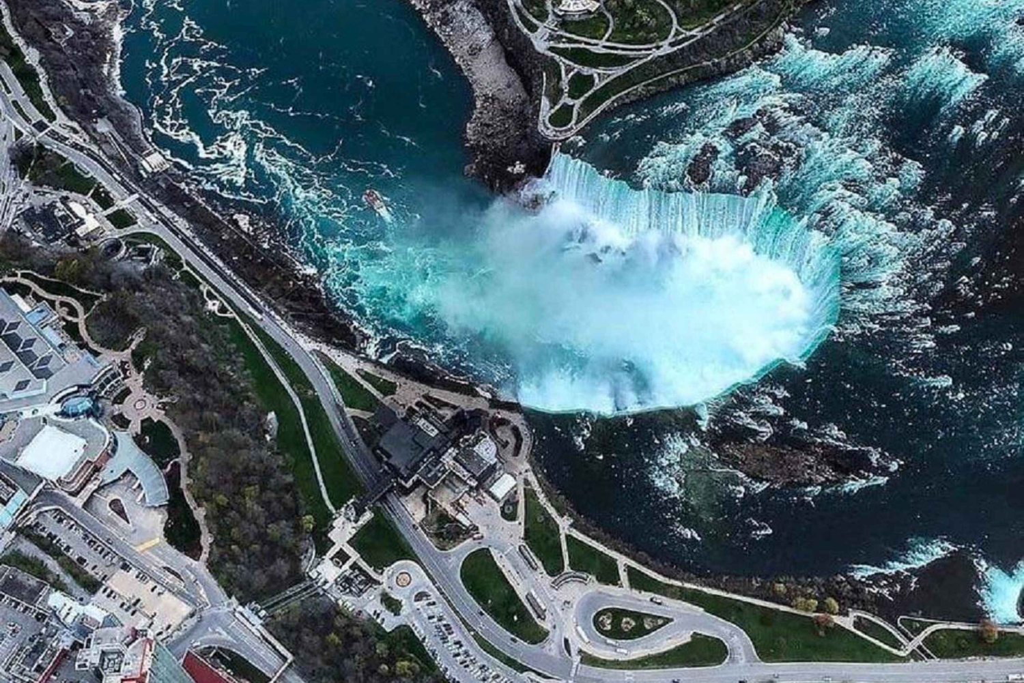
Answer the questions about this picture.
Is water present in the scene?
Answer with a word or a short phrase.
Yes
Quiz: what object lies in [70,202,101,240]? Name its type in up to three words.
building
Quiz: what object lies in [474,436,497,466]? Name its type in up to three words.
building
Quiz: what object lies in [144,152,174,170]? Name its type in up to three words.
house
